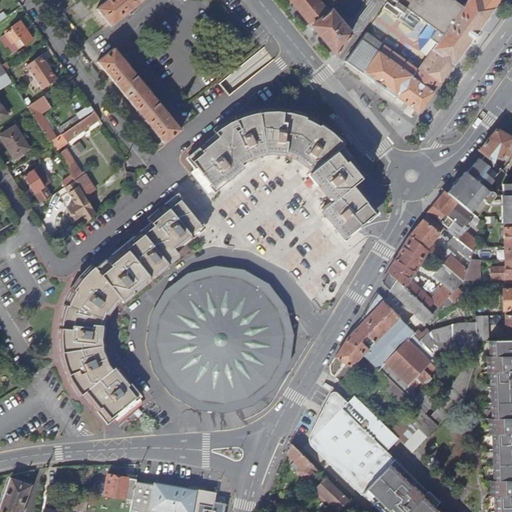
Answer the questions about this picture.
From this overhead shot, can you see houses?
Yes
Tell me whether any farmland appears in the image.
No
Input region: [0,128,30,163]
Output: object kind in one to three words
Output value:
house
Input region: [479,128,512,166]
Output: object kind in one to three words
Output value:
house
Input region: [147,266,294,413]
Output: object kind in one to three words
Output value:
building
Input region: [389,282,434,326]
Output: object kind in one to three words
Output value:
shed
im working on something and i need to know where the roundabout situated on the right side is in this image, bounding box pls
[391,154,432,196]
